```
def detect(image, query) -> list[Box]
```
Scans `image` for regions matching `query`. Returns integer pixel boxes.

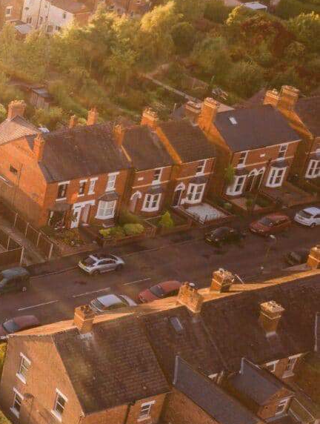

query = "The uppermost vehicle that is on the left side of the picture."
[75,252,125,279]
